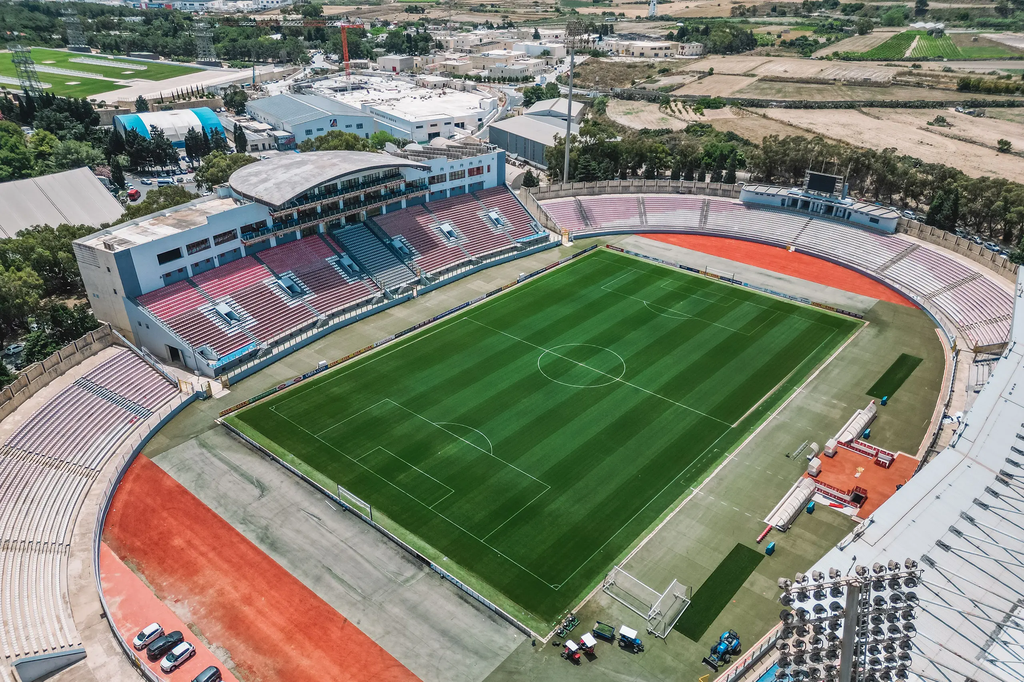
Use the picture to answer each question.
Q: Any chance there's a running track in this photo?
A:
Yes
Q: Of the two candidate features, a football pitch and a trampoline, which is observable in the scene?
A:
football pitch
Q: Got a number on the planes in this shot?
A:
0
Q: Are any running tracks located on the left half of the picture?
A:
Yes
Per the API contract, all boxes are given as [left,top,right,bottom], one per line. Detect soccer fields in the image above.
[237,250,859,625]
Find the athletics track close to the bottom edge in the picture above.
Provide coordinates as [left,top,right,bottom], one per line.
[100,450,418,682]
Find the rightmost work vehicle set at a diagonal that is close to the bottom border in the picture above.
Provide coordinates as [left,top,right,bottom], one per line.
[697,628,742,680]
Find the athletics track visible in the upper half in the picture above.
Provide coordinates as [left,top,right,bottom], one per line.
[637,234,922,310]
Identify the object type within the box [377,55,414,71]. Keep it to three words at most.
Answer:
building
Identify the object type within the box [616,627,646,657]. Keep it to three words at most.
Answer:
work vehicle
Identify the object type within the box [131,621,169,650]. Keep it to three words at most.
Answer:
car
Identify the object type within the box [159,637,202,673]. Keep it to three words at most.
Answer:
car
